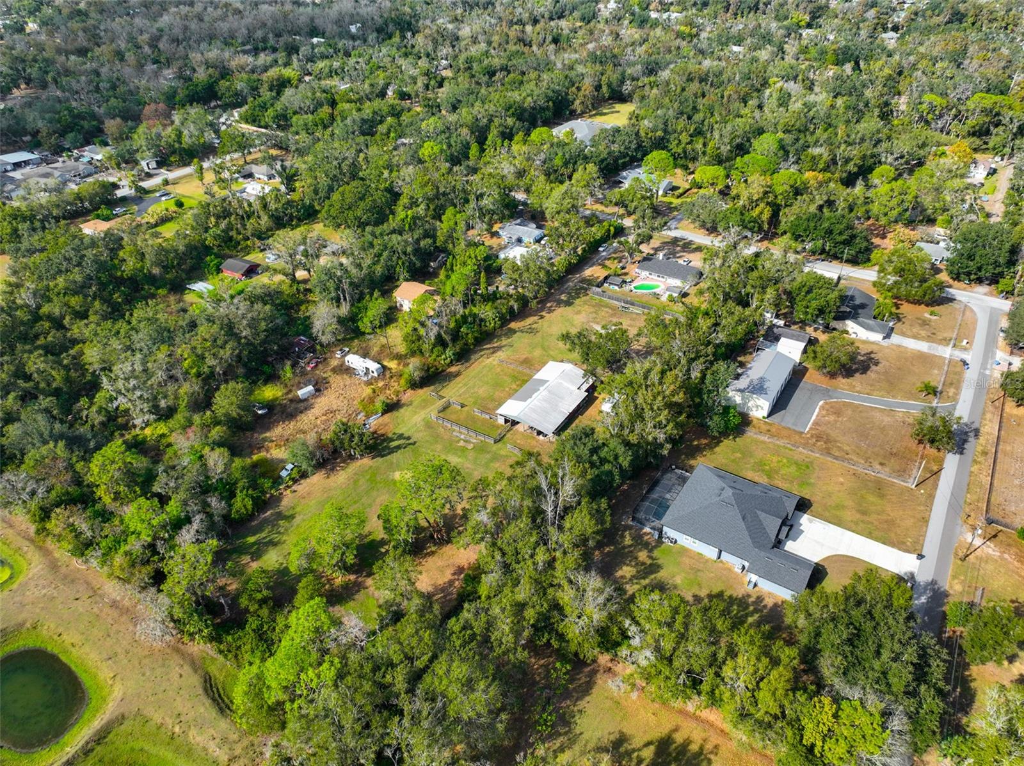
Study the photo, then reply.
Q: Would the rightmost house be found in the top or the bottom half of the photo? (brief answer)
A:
top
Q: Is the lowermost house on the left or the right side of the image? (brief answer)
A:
right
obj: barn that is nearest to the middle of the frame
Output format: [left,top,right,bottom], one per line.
[493,361,600,440]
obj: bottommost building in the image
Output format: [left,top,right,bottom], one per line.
[659,462,815,601]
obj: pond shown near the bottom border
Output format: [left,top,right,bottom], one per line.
[0,654,93,757]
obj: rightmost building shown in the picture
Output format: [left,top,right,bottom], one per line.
[967,154,994,180]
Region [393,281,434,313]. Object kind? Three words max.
house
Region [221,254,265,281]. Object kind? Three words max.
barn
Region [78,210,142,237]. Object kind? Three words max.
house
